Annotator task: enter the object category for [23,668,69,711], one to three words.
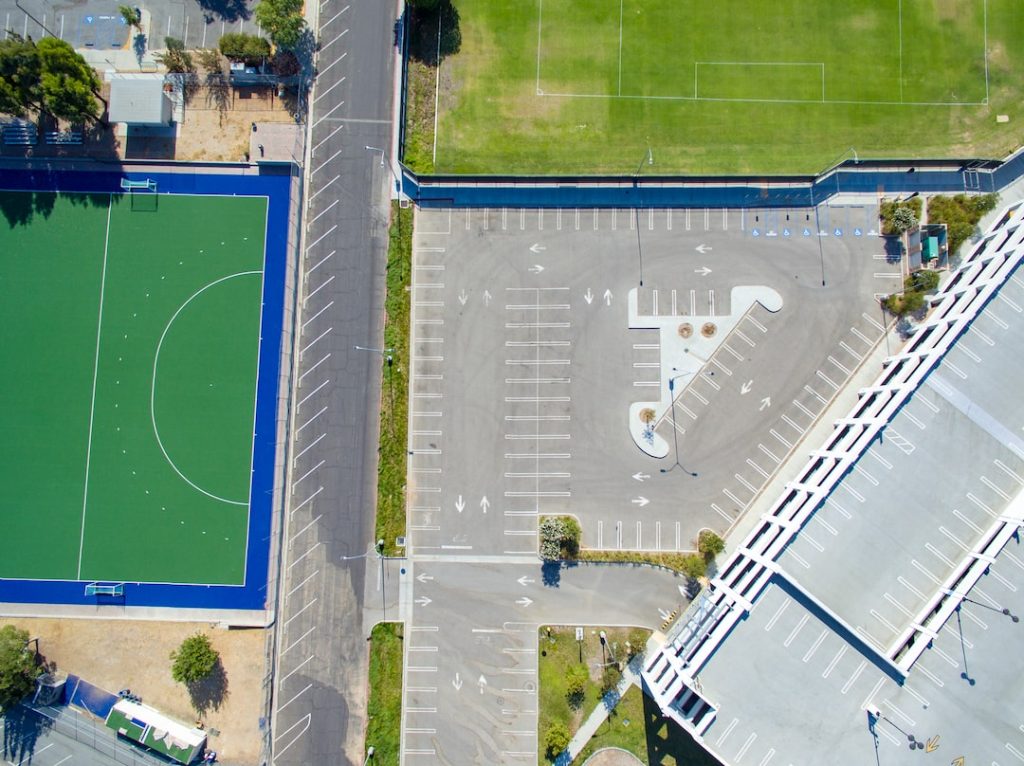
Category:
shed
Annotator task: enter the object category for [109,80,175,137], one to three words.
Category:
shed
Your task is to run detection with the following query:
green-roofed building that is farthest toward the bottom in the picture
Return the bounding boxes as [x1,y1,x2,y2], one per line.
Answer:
[104,700,210,766]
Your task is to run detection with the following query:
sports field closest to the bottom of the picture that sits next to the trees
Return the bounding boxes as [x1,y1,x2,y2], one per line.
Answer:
[0,170,290,608]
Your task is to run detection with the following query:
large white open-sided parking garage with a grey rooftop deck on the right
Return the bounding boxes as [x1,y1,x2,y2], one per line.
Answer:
[642,204,1024,766]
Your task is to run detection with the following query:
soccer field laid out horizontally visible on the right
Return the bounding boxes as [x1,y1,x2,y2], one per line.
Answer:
[426,0,1024,182]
